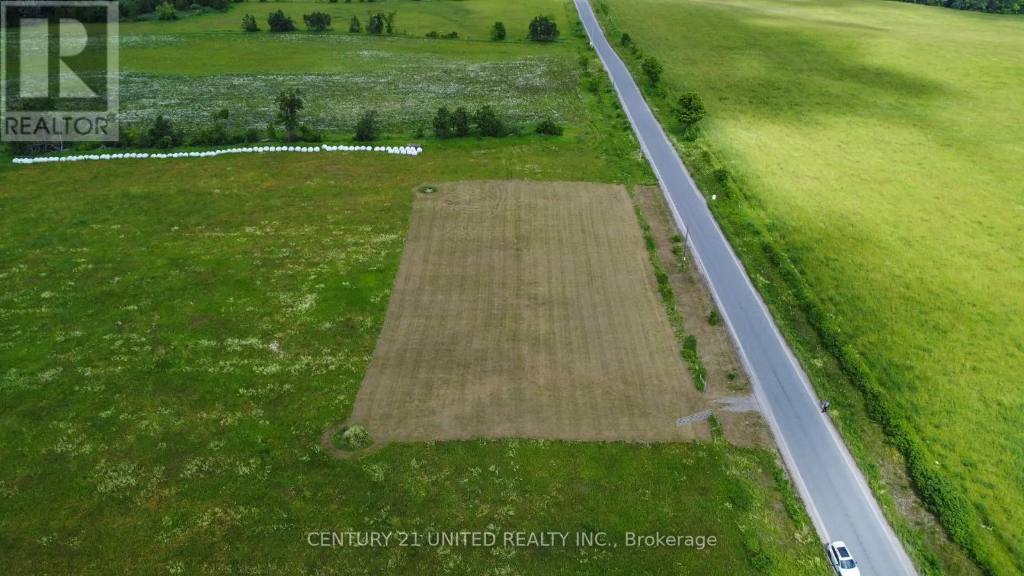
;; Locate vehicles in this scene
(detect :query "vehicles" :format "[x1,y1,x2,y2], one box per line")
[830,539,866,576]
